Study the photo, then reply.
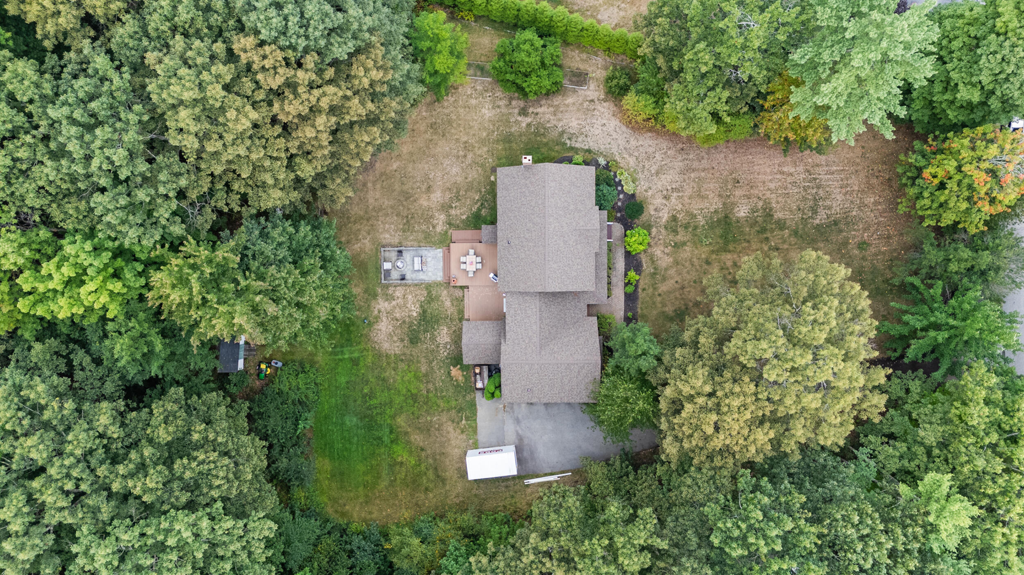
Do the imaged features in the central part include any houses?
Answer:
Yes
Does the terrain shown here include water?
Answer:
No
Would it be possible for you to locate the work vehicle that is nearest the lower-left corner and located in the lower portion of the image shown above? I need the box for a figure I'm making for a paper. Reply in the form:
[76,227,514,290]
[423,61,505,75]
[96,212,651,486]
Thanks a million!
[256,363,270,381]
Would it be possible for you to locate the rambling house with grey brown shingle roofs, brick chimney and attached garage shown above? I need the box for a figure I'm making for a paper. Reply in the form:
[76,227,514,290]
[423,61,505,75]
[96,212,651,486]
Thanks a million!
[462,155,614,403]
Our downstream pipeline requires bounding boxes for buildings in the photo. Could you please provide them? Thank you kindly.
[462,155,614,403]
[218,330,250,375]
